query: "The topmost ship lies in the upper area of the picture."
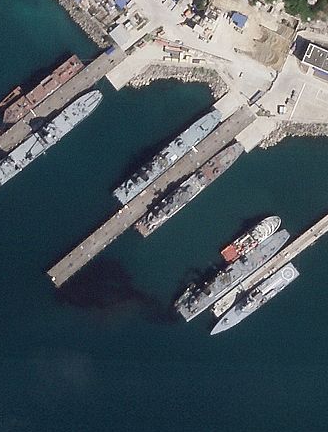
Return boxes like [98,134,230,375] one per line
[4,55,84,123]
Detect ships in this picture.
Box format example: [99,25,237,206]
[114,113,222,205]
[210,263,299,335]
[176,230,289,321]
[135,145,242,237]
[0,93,102,187]
[4,55,84,123]
[220,217,280,263]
